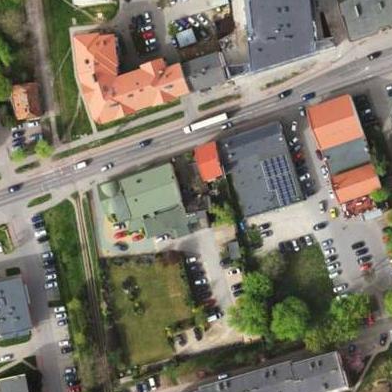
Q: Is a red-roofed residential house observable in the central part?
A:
Yes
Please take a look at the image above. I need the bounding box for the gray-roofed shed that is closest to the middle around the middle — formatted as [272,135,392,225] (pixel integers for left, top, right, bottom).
[186,208,209,232]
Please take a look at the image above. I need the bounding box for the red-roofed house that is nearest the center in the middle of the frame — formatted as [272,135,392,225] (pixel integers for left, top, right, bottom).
[193,141,226,183]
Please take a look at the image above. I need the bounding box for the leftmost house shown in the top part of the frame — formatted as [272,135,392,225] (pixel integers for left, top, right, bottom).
[11,81,46,122]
